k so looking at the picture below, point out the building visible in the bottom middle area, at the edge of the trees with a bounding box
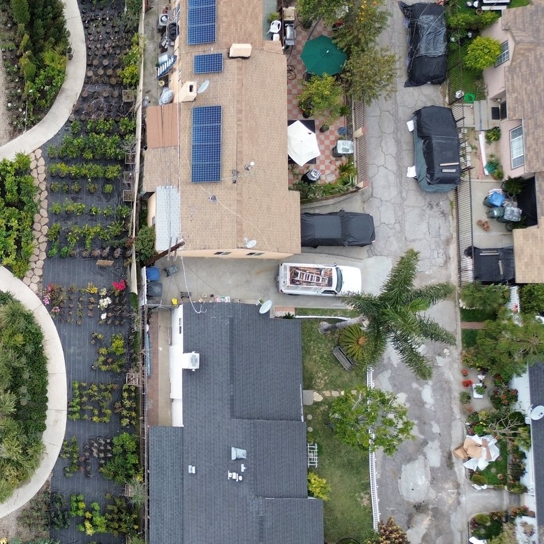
[148,303,324,544]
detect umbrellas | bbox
[299,35,345,79]
[289,126,320,162]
